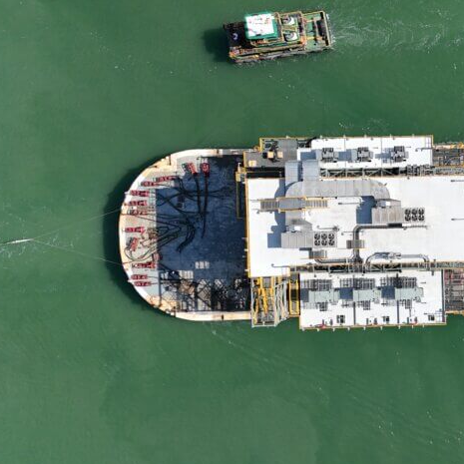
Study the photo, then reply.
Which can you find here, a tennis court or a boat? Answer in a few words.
boat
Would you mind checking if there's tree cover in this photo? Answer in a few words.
No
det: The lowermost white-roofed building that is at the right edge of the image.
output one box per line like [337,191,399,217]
[299,270,447,333]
